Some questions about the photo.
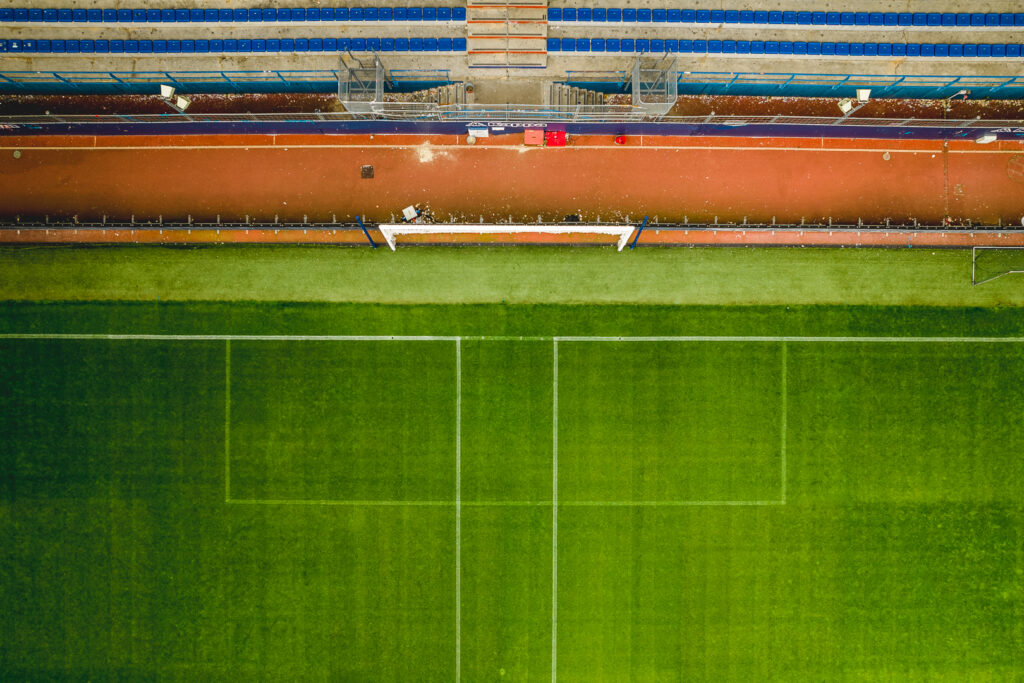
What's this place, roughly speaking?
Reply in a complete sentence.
This looks like a sports ground.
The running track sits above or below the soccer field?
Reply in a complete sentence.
From this view, the running track can be seen above the soccer field.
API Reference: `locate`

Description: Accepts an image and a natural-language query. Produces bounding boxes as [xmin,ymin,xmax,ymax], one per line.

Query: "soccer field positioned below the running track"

[0,301,1024,683]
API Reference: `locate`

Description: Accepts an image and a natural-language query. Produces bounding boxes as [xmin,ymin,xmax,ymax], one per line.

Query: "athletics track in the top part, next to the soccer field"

[0,134,1024,251]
